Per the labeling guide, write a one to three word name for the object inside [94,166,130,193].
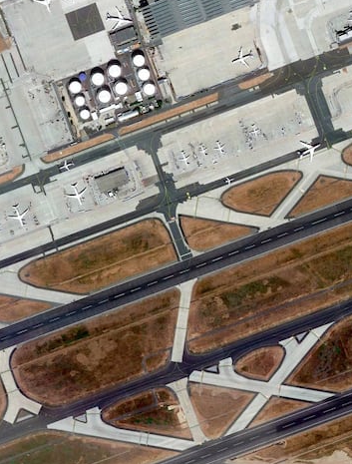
building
